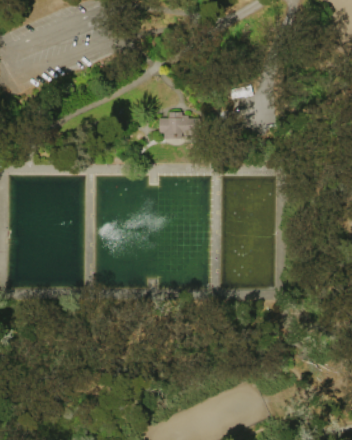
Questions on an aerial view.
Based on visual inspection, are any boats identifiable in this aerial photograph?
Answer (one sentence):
No, there isn't any boat down there.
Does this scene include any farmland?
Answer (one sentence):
No, there is no farmland in the image.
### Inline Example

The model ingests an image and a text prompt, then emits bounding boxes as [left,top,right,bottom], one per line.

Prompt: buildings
[159,111,195,139]
[231,86,254,99]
